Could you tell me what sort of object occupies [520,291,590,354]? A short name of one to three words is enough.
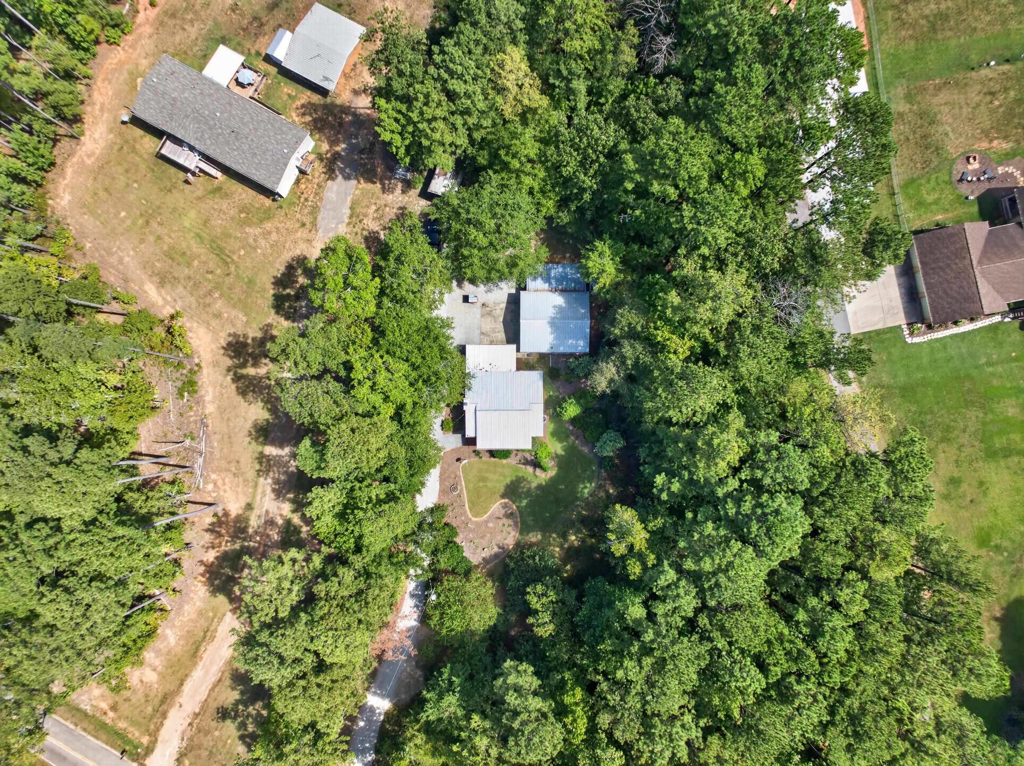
building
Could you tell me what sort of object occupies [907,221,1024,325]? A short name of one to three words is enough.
house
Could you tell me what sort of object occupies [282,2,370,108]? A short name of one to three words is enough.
barn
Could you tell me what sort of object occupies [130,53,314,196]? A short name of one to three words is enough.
house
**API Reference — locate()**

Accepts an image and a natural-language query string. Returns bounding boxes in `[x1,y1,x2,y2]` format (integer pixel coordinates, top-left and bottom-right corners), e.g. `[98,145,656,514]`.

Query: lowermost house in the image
[461,370,544,451]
